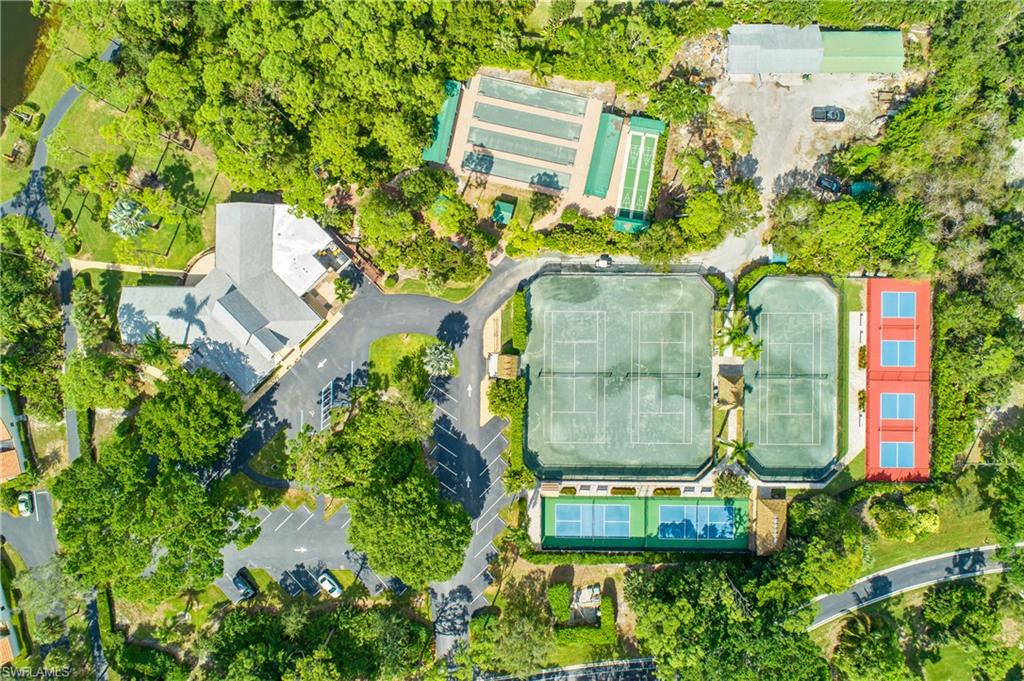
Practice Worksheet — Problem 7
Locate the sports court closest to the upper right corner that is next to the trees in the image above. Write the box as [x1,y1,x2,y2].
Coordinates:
[867,278,931,380]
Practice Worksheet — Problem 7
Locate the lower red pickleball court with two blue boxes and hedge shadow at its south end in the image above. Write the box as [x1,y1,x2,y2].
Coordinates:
[866,380,931,481]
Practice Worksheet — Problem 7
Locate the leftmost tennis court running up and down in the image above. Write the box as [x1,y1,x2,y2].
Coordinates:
[525,274,619,479]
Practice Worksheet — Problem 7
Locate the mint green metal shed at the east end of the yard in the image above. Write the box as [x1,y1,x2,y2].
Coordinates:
[821,31,903,73]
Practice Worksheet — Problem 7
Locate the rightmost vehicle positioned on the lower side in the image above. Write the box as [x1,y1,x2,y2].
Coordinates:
[318,572,342,597]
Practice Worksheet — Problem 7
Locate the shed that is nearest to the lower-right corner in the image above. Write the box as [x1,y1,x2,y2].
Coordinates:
[754,497,789,556]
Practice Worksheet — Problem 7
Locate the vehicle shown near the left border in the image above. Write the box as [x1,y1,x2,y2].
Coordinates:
[19,491,35,517]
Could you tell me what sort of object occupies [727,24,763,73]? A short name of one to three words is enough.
shed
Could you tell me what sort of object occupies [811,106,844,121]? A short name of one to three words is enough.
vehicle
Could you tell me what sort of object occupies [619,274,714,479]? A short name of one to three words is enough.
tennis court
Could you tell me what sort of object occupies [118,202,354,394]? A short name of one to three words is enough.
building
